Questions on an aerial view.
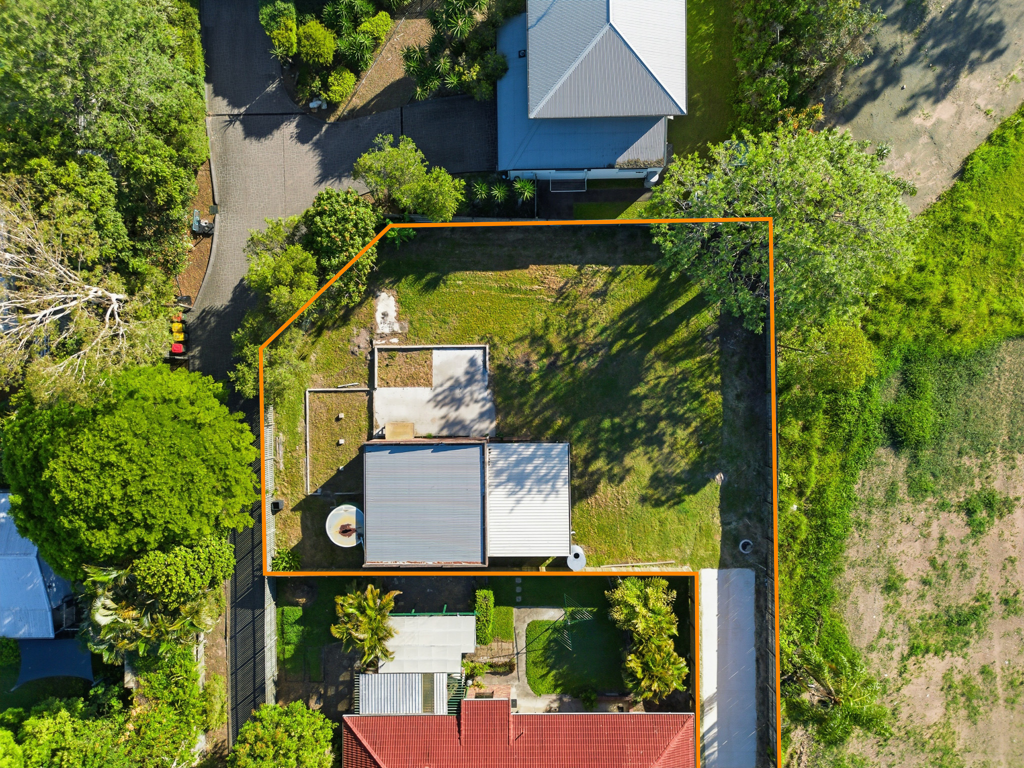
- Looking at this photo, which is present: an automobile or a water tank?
water tank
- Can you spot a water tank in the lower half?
Yes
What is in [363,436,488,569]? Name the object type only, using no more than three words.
shed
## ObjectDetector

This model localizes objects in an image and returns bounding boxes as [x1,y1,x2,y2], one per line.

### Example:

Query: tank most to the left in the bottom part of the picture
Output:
[325,499,364,555]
